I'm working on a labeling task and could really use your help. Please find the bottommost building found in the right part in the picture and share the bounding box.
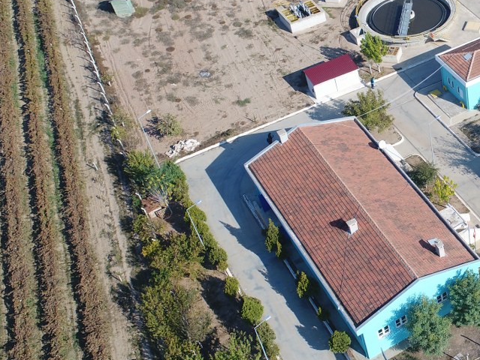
[243,116,480,355]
